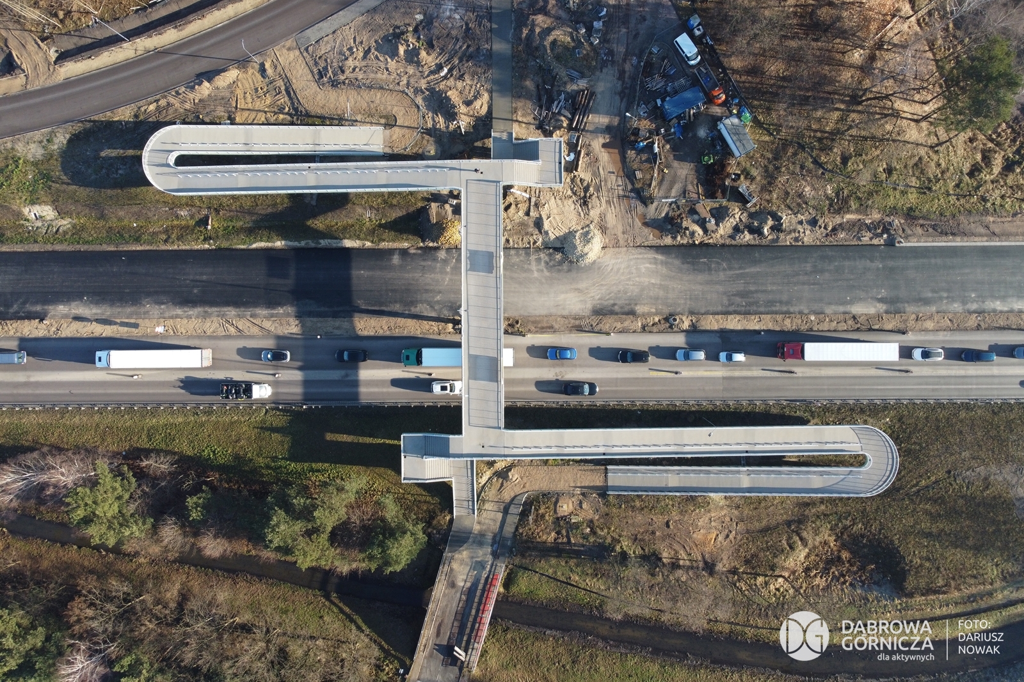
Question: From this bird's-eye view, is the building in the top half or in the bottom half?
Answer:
top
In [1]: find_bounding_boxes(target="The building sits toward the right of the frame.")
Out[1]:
[719,107,762,158]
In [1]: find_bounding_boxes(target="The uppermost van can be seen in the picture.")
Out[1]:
[674,25,703,65]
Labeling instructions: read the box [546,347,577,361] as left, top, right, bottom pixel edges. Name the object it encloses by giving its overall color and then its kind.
blue car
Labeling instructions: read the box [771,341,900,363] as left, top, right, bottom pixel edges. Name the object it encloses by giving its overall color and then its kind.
white truck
